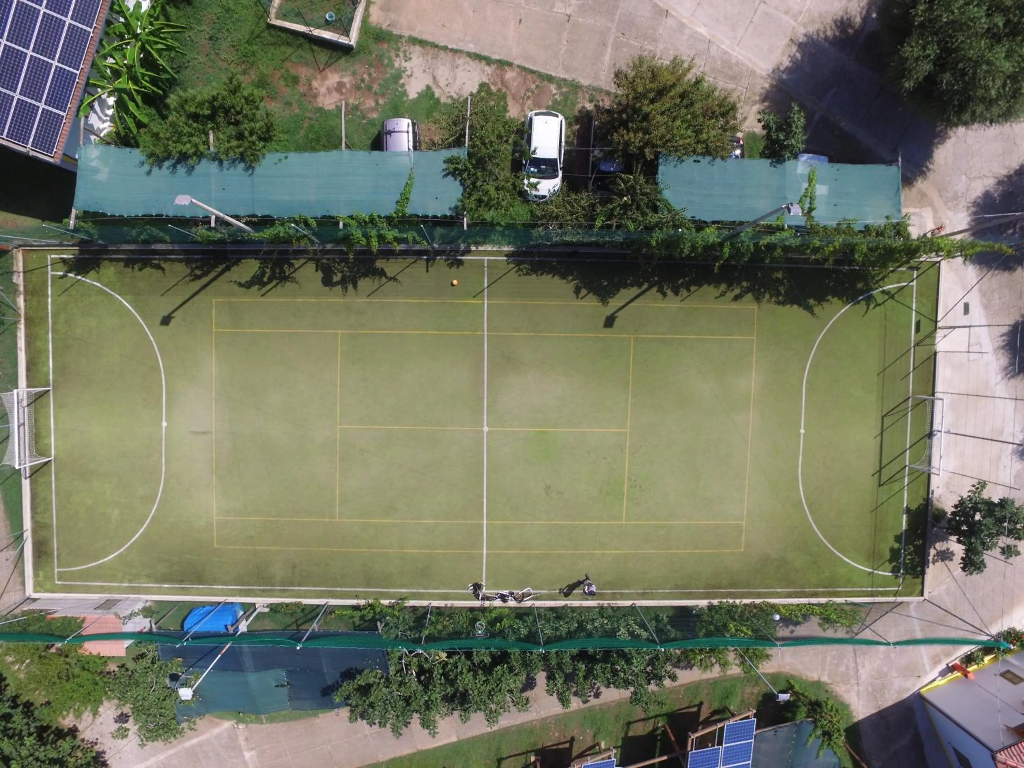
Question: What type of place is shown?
sports ground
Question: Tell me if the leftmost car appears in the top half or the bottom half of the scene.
top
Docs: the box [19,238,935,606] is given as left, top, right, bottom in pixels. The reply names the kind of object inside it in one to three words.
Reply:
sports field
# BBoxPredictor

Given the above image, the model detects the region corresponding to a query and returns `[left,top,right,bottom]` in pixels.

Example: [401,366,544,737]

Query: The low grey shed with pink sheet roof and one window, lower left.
[26,603,170,656]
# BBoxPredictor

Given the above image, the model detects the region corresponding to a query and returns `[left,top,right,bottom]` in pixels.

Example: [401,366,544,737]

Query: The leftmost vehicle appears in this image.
[381,108,422,152]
